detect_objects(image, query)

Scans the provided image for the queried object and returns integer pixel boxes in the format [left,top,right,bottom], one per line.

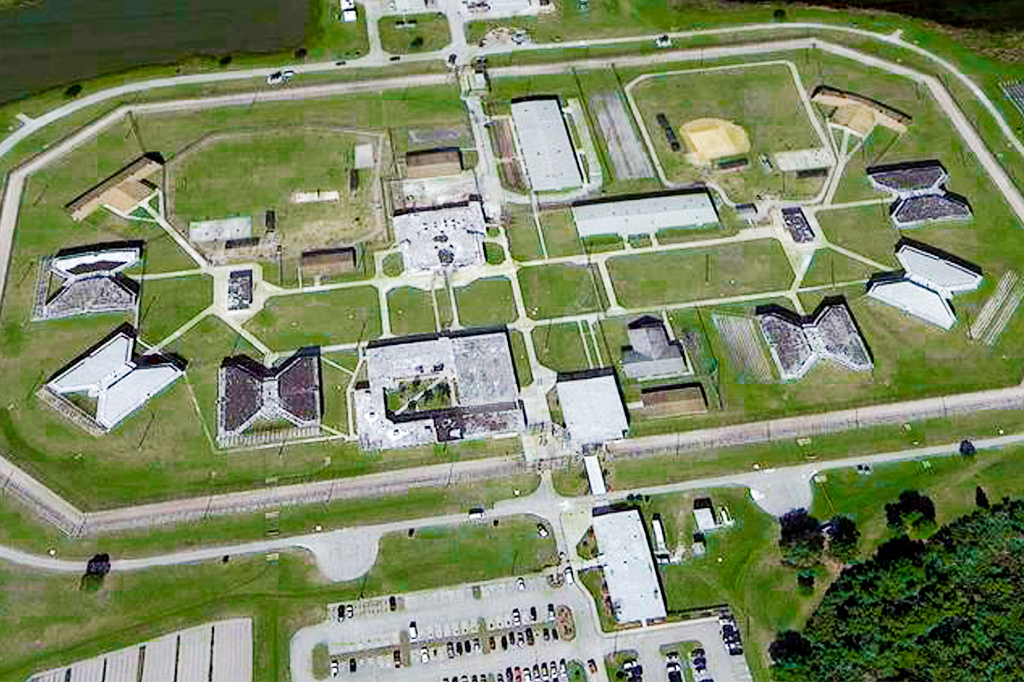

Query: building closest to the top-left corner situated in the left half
[66,159,163,223]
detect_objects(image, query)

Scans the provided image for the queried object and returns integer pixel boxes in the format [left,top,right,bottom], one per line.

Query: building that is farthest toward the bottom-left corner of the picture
[48,331,183,434]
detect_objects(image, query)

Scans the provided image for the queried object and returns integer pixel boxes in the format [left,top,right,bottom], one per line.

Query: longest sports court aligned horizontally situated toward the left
[189,214,253,243]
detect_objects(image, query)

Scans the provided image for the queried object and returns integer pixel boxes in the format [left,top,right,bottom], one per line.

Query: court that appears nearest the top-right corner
[775,145,835,169]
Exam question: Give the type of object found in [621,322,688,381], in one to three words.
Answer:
building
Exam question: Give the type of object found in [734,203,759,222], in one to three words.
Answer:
shed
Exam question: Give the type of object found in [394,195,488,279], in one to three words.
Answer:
building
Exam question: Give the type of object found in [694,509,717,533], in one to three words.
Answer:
shed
